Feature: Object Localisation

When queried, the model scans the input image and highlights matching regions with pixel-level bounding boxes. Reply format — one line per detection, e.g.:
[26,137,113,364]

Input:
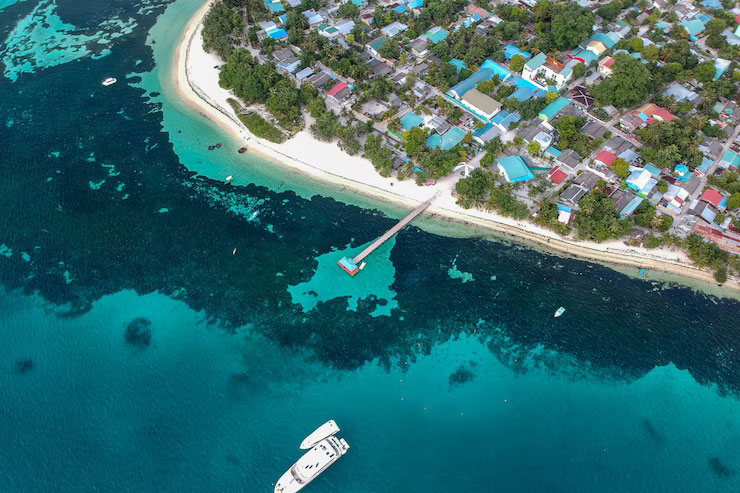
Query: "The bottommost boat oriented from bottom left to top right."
[275,436,348,493]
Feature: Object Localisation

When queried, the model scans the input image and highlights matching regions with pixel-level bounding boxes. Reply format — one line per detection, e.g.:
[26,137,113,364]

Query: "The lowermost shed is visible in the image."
[337,256,360,280]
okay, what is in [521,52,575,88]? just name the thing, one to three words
building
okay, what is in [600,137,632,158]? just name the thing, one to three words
house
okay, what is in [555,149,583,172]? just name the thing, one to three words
house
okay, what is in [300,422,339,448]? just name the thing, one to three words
boat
